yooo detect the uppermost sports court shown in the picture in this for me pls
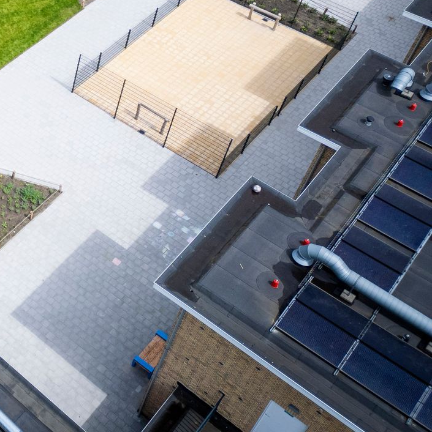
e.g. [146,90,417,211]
[74,0,334,173]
